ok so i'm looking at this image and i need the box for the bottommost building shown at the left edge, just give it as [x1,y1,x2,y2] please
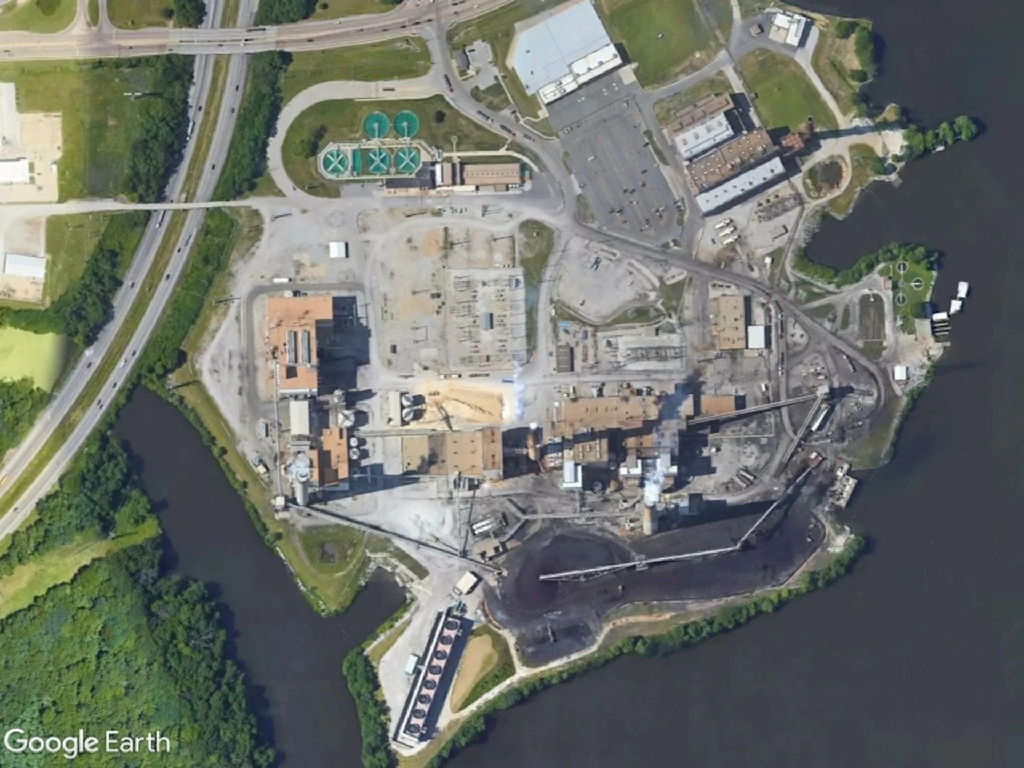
[4,253,45,279]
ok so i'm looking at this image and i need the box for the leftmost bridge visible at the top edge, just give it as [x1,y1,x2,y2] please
[167,24,277,55]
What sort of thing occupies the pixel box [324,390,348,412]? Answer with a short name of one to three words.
silo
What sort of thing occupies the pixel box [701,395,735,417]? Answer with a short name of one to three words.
building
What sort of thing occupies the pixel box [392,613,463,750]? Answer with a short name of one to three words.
cooling tower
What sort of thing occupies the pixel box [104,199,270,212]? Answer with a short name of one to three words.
bridge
